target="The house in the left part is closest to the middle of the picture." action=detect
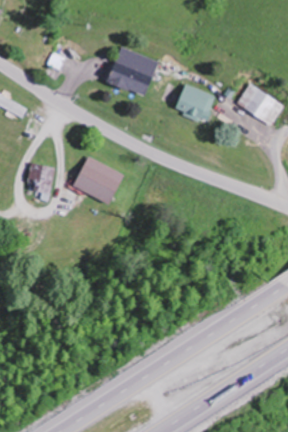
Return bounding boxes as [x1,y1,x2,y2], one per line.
[70,156,124,204]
